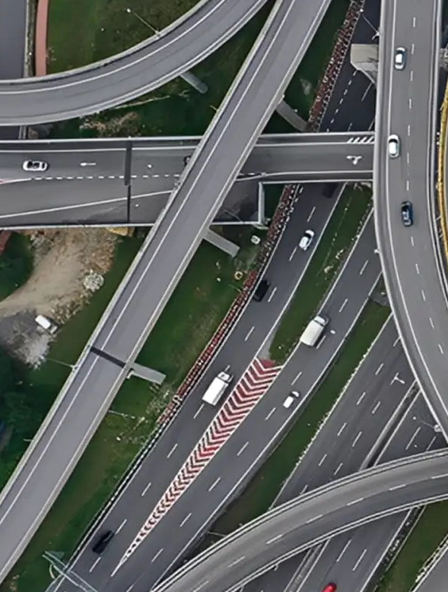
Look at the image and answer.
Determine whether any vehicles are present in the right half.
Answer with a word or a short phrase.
Yes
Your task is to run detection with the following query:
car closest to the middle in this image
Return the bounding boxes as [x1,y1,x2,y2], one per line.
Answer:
[252,275,271,301]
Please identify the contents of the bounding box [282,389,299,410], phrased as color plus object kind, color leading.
white car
